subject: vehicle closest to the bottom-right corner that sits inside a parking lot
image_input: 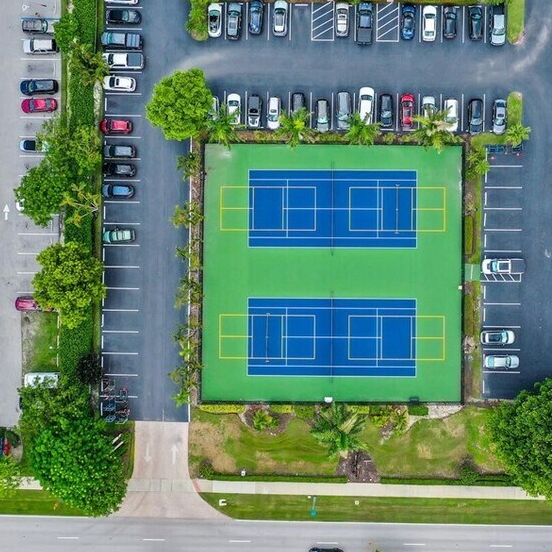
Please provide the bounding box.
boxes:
[483,354,519,371]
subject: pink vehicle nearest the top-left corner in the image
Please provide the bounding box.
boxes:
[22,96,59,113]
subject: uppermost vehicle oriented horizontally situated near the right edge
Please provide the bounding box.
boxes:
[481,257,526,275]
